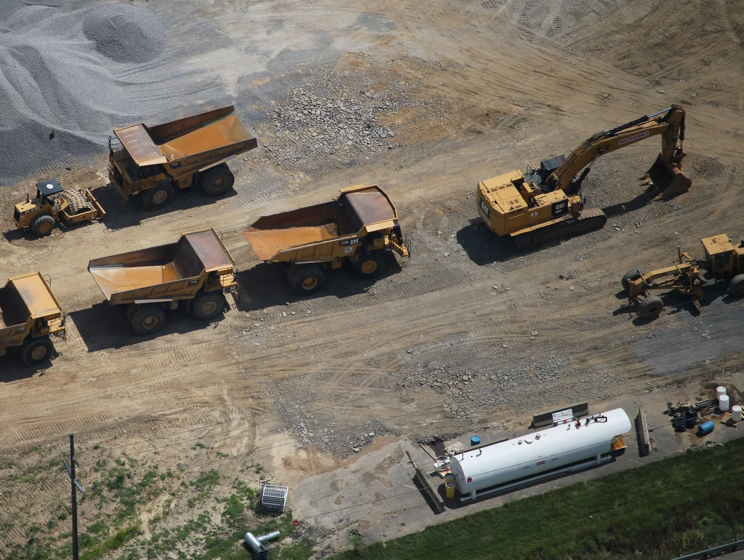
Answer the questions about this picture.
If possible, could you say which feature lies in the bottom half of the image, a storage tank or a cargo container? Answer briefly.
storage tank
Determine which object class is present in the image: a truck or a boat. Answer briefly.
truck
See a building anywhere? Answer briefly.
No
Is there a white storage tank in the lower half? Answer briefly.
Yes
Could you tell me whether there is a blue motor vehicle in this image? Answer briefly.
No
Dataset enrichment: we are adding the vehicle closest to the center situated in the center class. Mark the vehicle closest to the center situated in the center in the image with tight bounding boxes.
[244,183,409,297]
